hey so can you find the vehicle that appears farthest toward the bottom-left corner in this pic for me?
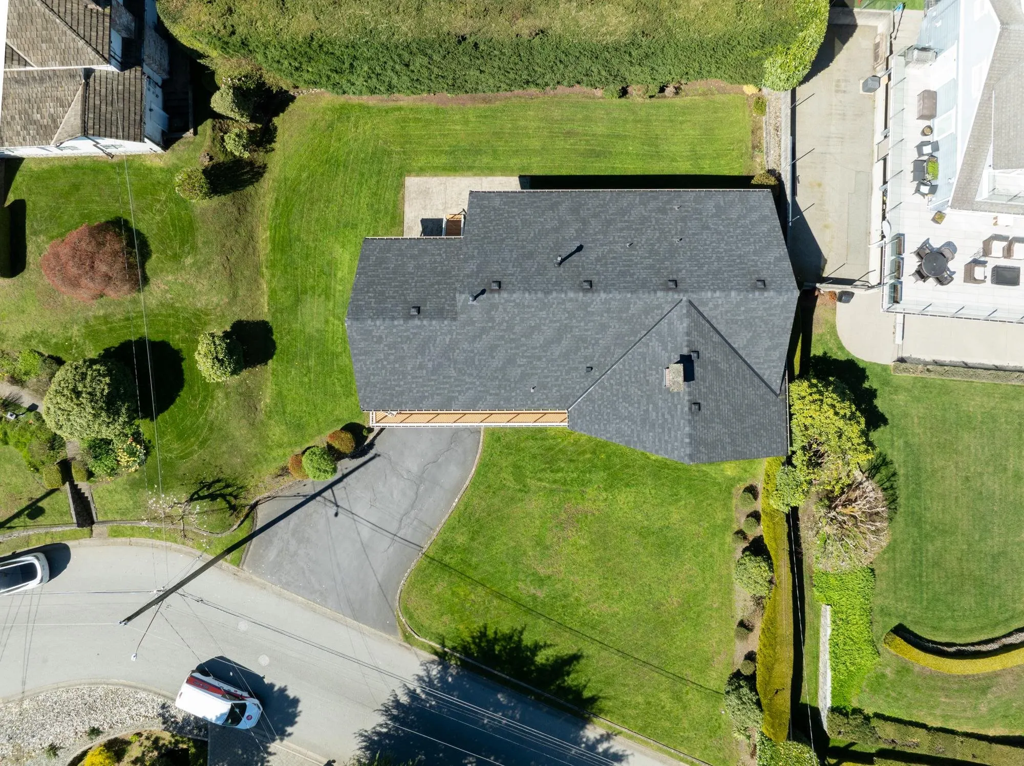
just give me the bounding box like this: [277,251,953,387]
[0,559,54,604]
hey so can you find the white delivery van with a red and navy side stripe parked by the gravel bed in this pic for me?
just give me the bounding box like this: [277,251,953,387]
[174,672,260,725]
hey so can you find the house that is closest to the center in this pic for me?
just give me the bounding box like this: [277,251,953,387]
[346,188,799,464]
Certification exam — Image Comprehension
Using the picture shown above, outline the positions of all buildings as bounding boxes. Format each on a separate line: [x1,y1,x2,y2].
[0,0,164,159]
[346,188,799,464]
[879,0,1024,327]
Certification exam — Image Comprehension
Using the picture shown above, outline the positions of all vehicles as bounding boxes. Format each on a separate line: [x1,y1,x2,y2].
[0,559,54,604]
[174,672,260,725]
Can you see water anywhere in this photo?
No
